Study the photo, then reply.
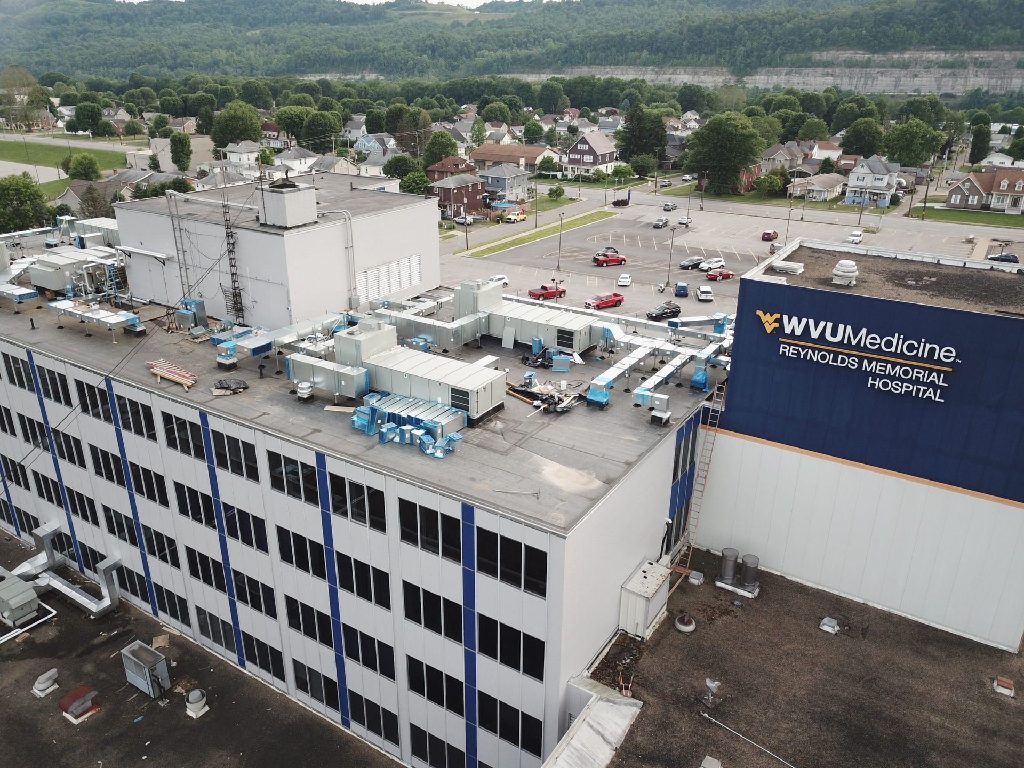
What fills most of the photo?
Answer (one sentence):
The scene is dominated by buildings.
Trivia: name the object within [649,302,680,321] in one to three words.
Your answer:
car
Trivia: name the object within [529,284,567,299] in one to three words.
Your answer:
vehicle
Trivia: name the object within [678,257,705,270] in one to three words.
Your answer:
vehicle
